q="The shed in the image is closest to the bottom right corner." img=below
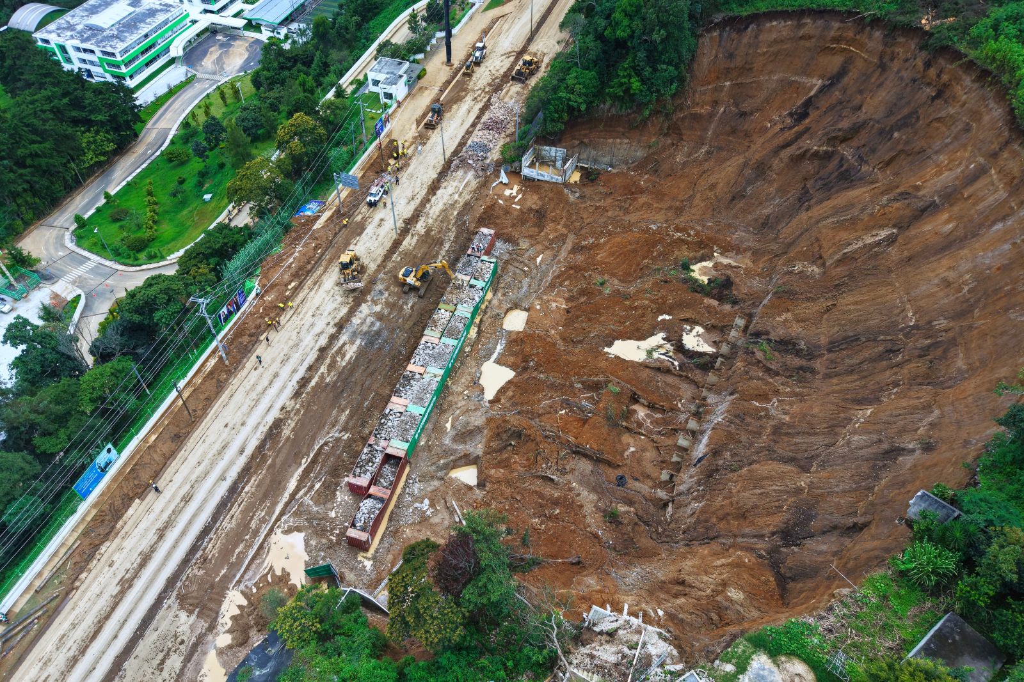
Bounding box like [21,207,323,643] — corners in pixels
[901,611,982,682]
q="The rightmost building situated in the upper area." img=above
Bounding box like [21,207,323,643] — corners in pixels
[355,53,441,102]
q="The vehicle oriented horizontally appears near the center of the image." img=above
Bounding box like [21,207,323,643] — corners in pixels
[390,264,453,295]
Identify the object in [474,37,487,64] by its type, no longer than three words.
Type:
vehicle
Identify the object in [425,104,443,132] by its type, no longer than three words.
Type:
work vehicle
